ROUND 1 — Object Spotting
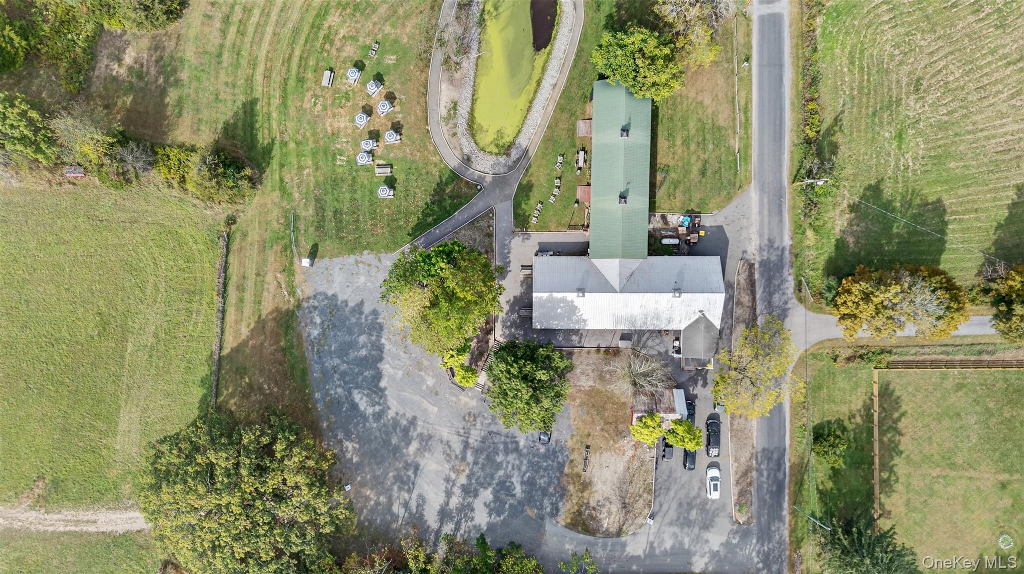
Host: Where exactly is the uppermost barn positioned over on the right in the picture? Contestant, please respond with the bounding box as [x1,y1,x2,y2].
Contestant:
[588,86,653,261]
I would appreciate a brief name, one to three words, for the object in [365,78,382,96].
umbrella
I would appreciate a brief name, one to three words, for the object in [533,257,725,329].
barn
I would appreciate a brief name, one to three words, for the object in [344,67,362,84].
umbrella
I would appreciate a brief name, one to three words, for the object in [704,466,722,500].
car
